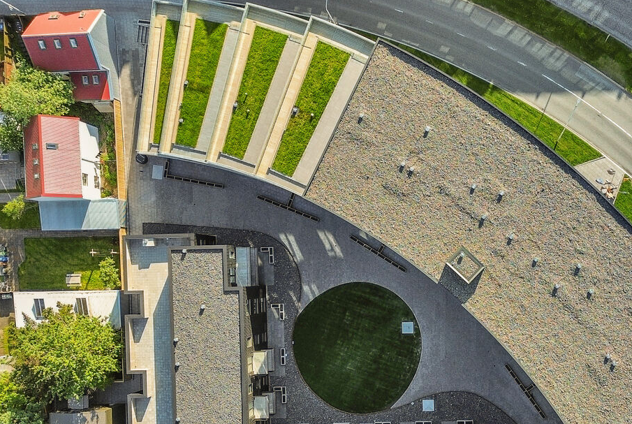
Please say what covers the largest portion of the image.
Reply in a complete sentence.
For the most part, this view shows buildings.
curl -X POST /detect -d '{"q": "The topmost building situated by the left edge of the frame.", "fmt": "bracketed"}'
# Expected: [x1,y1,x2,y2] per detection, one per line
[20,9,118,104]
